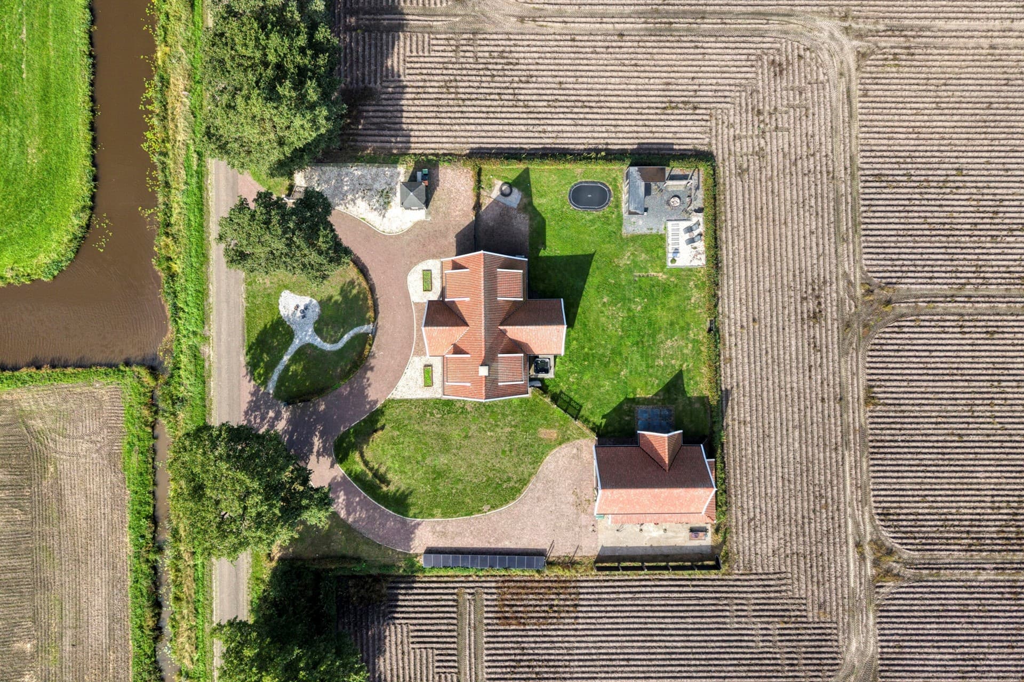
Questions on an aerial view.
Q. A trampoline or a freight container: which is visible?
trampoline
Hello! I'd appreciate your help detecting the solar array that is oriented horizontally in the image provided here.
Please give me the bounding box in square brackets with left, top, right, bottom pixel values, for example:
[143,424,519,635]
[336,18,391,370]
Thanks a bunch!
[423,555,545,570]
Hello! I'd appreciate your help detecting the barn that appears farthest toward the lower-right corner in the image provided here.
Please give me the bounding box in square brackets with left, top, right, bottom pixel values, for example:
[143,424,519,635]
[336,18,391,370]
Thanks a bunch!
[592,429,717,526]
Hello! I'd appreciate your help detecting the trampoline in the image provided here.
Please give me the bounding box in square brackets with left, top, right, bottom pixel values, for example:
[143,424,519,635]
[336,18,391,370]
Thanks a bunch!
[568,180,613,211]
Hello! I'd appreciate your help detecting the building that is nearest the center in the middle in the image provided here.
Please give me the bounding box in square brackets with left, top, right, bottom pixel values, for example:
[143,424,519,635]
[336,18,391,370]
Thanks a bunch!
[421,251,567,401]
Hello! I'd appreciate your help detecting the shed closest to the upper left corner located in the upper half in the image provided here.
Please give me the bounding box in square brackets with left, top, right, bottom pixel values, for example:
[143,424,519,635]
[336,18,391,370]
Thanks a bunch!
[400,182,427,211]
